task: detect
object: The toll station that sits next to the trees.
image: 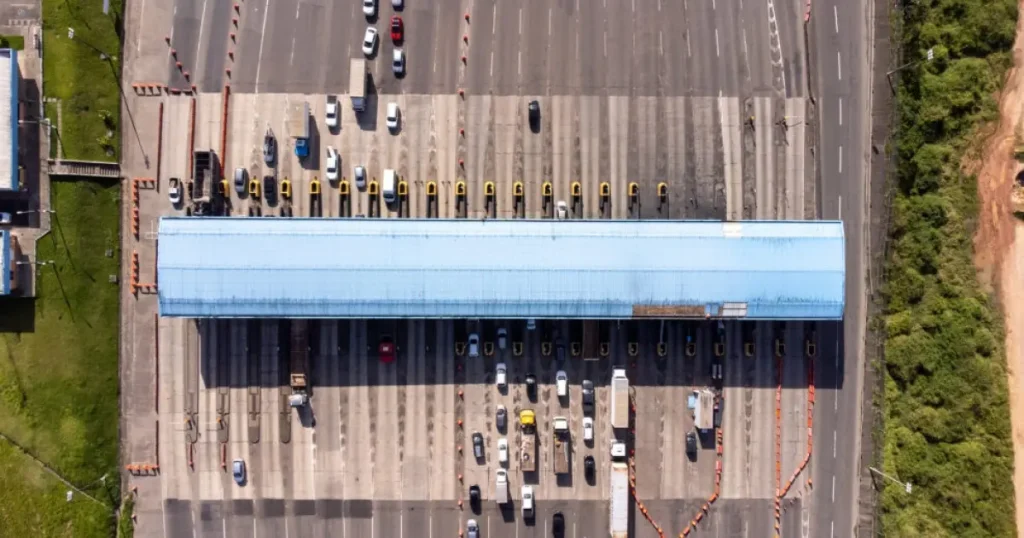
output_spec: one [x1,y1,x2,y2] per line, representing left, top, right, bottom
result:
[158,95,816,499]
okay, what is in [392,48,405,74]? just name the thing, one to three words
vehicle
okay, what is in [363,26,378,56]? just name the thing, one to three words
car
